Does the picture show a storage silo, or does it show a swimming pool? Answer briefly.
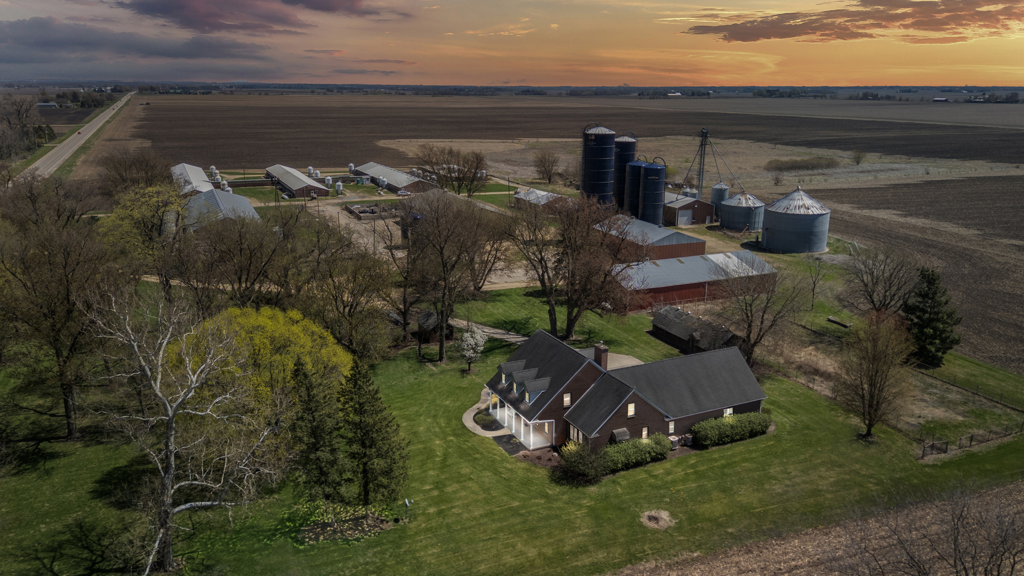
storage silo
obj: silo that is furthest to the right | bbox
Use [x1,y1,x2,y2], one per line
[758,187,834,253]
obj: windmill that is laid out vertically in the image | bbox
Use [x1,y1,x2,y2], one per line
[268,173,285,215]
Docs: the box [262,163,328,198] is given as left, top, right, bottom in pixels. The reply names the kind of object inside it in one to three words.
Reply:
barn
